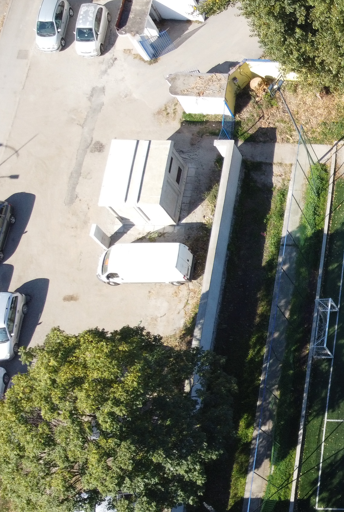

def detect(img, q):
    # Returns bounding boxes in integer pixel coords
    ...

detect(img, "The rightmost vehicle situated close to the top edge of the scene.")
[70,6,110,58]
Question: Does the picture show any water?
No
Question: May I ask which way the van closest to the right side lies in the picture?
from left to right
